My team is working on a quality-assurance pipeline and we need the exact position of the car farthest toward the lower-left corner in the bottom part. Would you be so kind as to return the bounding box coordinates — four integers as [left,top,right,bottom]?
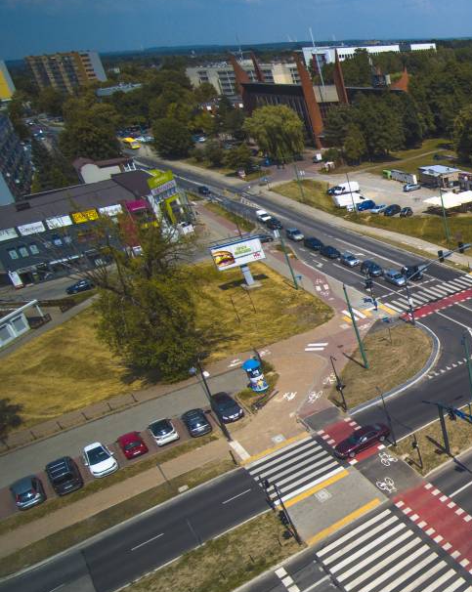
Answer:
[6,477,49,513]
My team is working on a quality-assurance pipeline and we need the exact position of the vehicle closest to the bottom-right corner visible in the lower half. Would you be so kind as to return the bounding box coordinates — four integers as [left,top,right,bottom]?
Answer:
[333,424,394,459]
